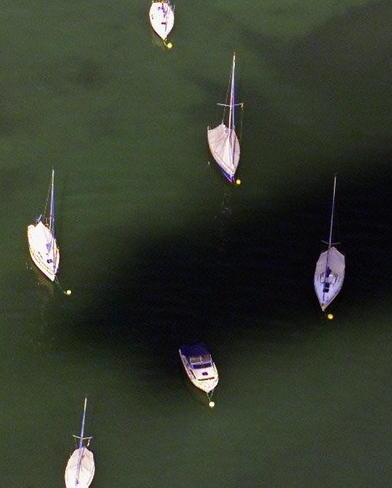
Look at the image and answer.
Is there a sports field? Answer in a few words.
No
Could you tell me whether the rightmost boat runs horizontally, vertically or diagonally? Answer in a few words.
vertically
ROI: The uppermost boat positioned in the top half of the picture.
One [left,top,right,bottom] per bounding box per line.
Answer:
[150,0,176,45]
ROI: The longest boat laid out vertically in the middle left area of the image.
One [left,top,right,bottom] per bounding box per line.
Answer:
[29,168,61,286]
